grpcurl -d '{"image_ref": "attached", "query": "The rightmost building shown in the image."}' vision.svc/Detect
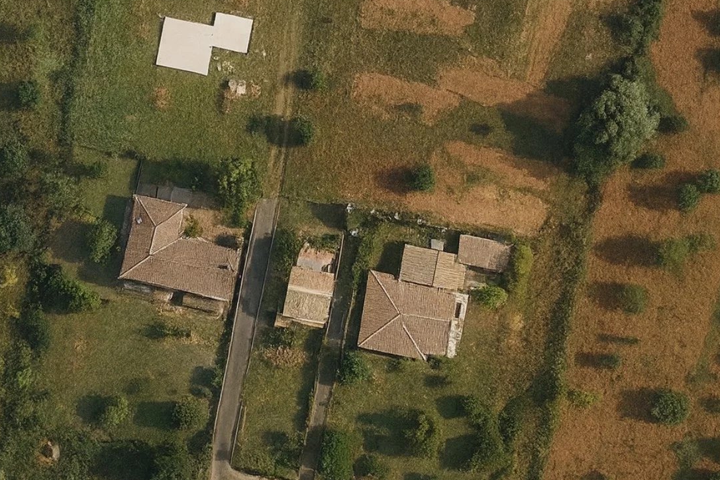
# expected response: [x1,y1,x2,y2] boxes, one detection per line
[458,234,512,271]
